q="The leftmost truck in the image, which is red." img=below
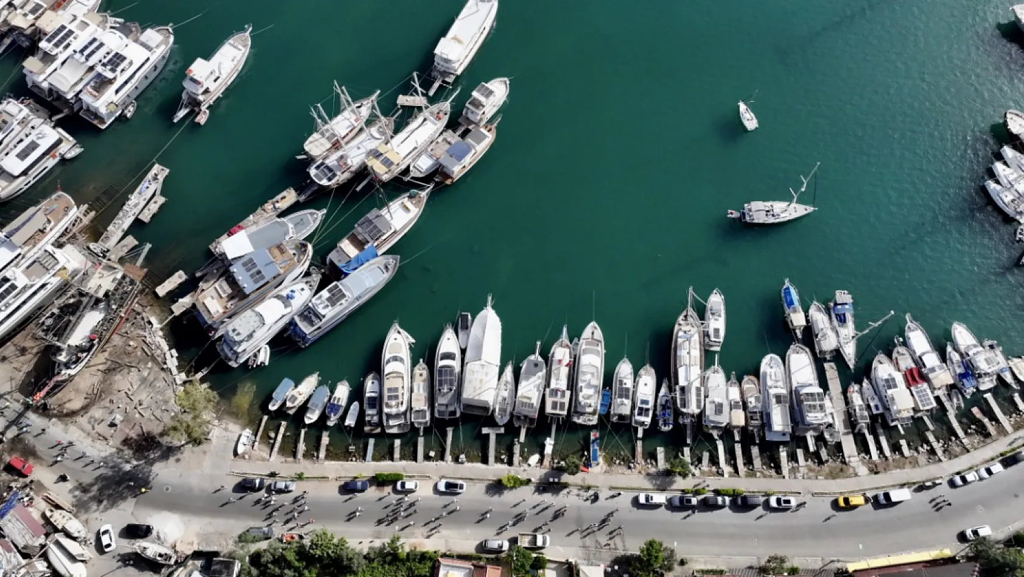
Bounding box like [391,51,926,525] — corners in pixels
[7,453,34,478]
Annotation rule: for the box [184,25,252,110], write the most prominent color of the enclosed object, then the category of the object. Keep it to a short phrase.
white boat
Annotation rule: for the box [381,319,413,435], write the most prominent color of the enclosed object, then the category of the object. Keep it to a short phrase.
white boat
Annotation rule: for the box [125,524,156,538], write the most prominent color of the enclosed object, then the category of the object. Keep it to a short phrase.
black car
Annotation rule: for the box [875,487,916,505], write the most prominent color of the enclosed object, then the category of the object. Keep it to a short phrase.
white vehicle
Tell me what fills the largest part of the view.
water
